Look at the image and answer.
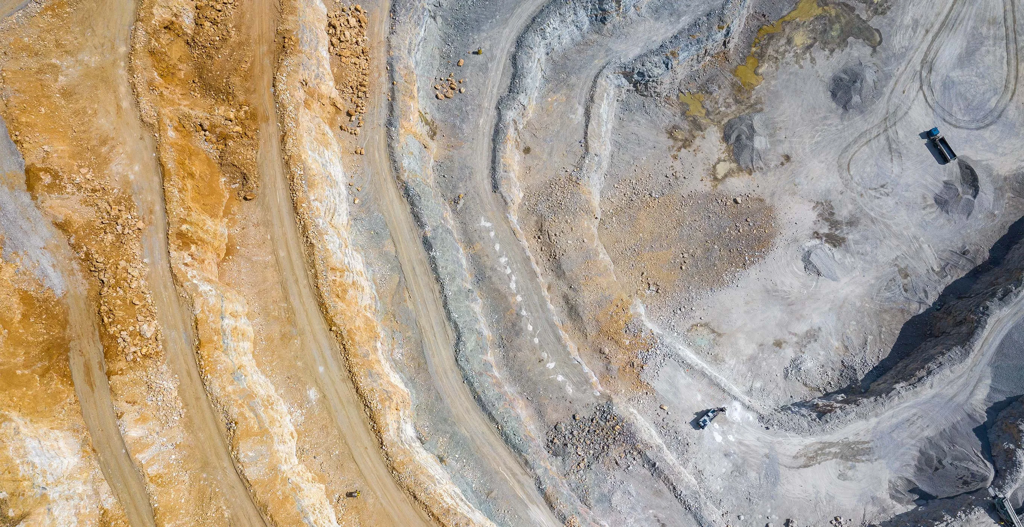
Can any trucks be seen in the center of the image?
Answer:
No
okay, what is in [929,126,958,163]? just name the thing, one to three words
truck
